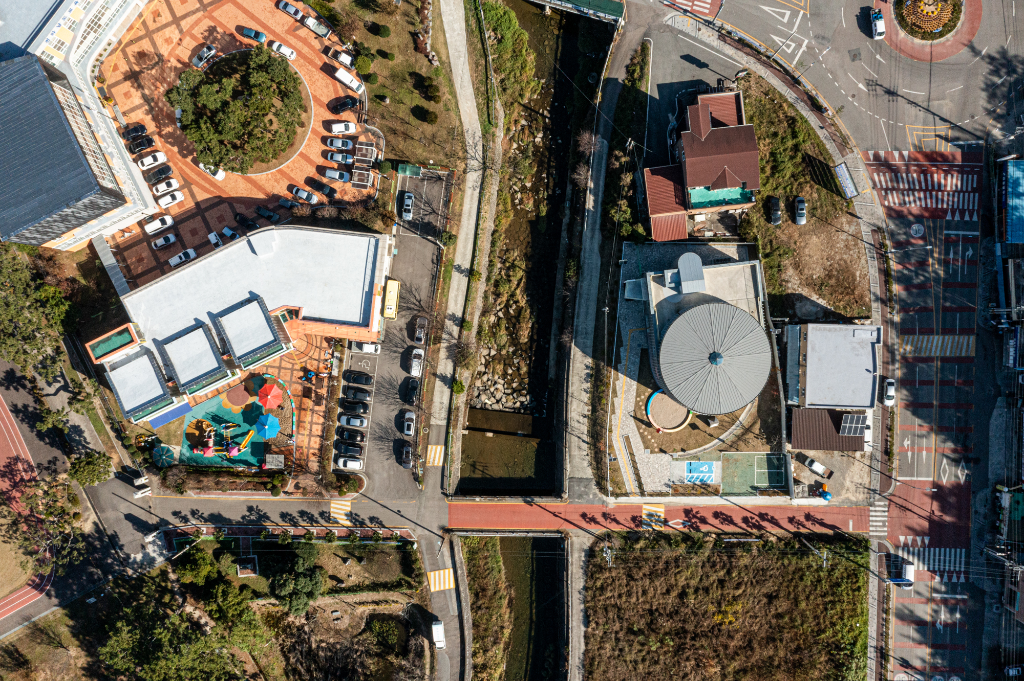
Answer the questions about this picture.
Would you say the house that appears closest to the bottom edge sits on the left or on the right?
right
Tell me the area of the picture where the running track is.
bottom left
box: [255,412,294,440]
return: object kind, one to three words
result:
umbrella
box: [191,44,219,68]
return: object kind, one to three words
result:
car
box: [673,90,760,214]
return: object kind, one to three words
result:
house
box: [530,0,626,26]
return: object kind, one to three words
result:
bridge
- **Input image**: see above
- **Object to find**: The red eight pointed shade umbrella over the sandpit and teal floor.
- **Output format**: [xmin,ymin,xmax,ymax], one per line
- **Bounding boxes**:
[257,383,283,411]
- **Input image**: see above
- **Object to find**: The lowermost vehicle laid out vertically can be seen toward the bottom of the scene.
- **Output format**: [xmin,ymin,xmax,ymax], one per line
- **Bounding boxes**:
[431,619,445,650]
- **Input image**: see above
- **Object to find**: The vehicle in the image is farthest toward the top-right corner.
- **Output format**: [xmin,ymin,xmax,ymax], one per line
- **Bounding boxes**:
[870,9,888,41]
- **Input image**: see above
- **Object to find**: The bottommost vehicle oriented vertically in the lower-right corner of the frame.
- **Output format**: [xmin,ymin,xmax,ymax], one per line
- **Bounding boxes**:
[898,553,918,592]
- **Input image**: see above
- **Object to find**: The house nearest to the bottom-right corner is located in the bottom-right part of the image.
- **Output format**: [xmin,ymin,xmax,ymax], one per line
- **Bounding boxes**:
[983,554,1024,624]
